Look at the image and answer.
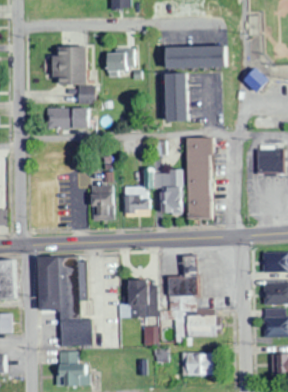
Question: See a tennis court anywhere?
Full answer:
No, there appears to be no tennis court in this shot.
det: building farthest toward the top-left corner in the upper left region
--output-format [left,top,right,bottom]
[45,46,86,85]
